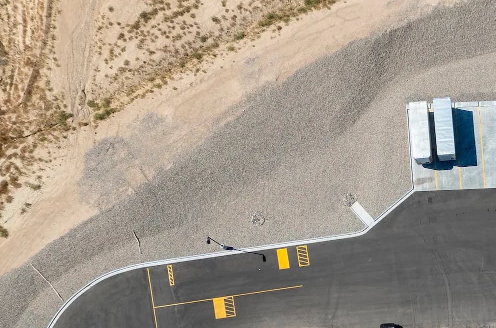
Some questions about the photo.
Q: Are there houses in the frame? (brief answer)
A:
No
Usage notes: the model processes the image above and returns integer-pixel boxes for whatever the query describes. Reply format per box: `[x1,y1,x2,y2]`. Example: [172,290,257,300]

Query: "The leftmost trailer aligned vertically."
[409,100,433,166]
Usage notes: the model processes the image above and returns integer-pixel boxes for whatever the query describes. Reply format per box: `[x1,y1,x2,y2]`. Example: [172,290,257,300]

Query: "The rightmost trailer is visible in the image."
[434,96,456,164]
